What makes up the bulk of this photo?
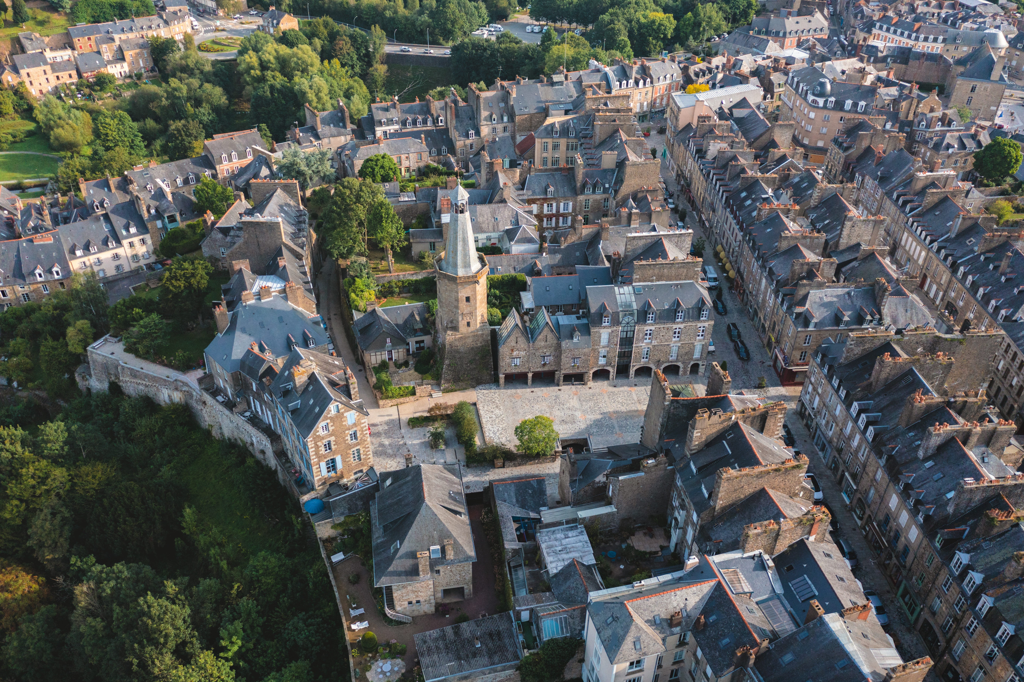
buildings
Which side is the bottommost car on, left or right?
right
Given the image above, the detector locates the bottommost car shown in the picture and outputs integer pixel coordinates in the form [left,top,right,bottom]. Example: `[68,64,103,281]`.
[863,588,895,622]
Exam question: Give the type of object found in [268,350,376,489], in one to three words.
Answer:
house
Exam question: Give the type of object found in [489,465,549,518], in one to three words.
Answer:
shed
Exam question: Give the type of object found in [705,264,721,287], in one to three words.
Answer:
vehicle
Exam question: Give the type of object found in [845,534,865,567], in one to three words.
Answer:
car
